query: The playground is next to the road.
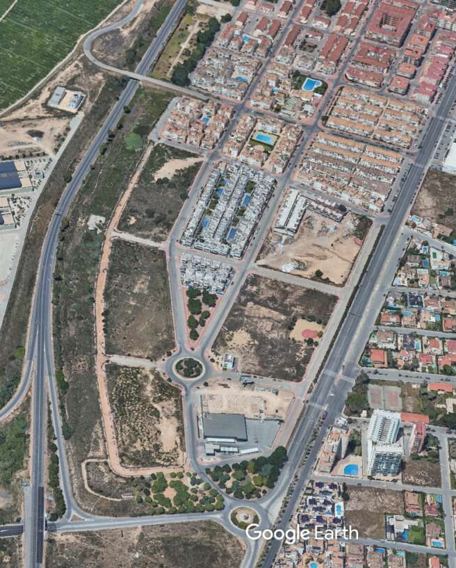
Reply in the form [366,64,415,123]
[289,318,324,341]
